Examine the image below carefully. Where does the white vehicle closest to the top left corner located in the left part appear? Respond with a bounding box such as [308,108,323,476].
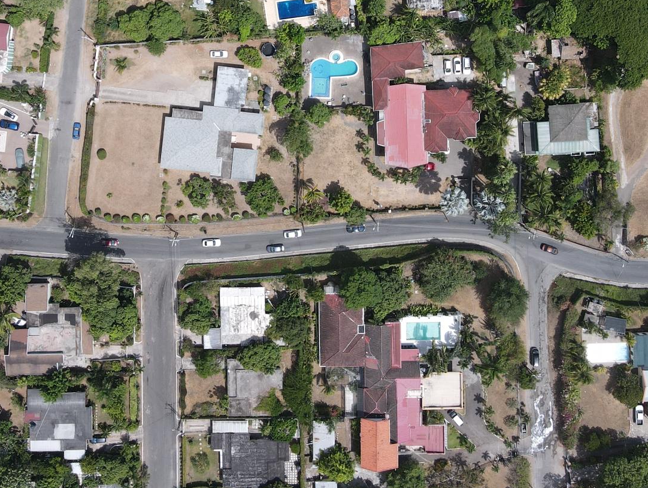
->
[0,106,18,122]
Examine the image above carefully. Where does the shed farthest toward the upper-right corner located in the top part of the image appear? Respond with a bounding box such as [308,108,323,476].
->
[551,39,587,60]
